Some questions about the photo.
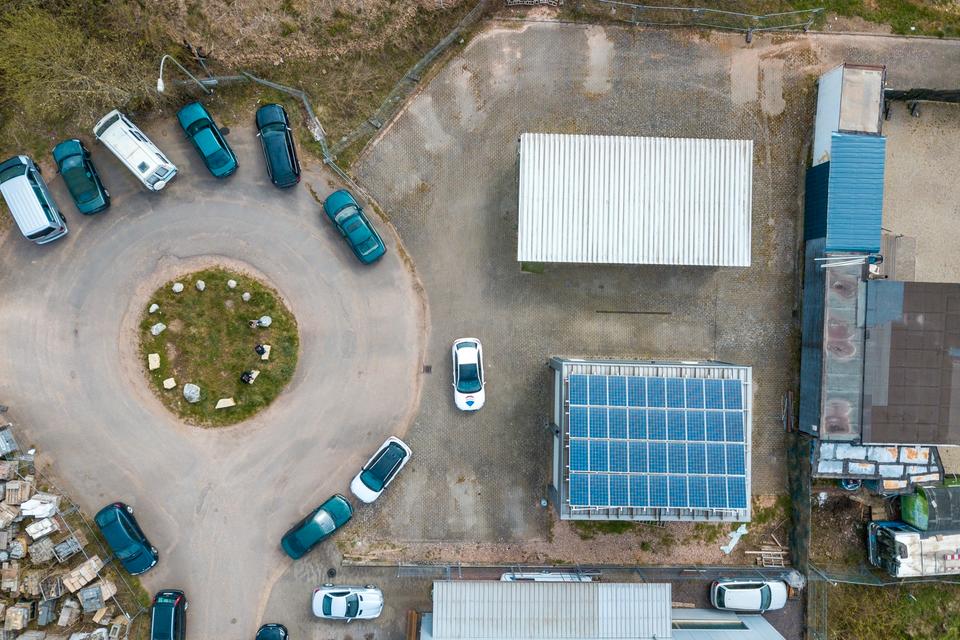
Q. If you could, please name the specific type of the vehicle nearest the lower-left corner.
car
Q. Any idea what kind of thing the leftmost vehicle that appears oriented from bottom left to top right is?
car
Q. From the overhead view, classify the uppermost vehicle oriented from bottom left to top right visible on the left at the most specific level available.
car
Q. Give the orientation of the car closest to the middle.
up and down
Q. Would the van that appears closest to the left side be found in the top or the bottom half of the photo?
top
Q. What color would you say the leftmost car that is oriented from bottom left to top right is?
blue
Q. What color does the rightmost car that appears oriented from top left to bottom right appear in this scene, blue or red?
blue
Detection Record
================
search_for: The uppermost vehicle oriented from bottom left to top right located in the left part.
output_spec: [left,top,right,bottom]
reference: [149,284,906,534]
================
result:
[354,437,411,501]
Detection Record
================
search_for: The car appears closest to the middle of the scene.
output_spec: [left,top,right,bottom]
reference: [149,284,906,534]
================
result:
[450,337,488,411]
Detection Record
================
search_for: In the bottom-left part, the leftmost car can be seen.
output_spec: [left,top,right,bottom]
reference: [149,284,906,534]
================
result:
[98,502,158,574]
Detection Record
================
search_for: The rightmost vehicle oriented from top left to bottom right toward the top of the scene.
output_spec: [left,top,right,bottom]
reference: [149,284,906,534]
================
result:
[328,193,385,262]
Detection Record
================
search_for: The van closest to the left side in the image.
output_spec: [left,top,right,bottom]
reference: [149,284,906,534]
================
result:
[0,157,65,244]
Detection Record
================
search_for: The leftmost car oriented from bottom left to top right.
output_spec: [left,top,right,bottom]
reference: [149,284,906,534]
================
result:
[281,492,352,559]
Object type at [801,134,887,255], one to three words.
shed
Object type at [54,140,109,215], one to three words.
car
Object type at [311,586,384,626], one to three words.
car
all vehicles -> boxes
[255,105,302,188]
[98,502,158,574]
[354,437,411,501]
[0,157,65,244]
[54,140,109,215]
[860,519,960,579]
[281,492,352,559]
[257,622,290,640]
[450,337,488,411]
[181,105,239,177]
[311,586,384,626]
[710,576,787,616]
[328,193,385,262]
[94,111,179,193]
